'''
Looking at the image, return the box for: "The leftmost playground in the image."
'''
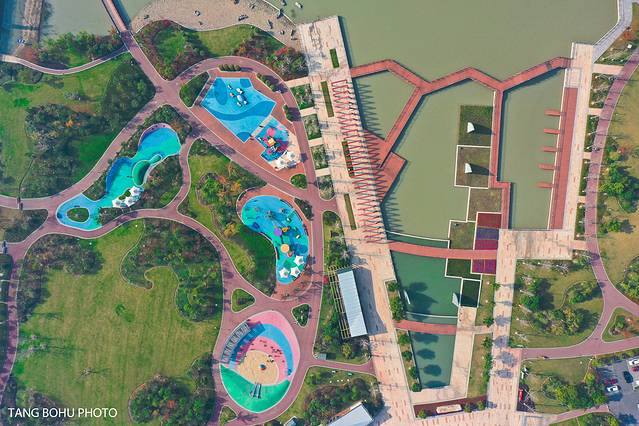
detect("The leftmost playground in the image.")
[56,126,181,231]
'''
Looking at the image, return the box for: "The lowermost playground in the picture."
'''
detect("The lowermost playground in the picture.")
[219,310,300,414]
